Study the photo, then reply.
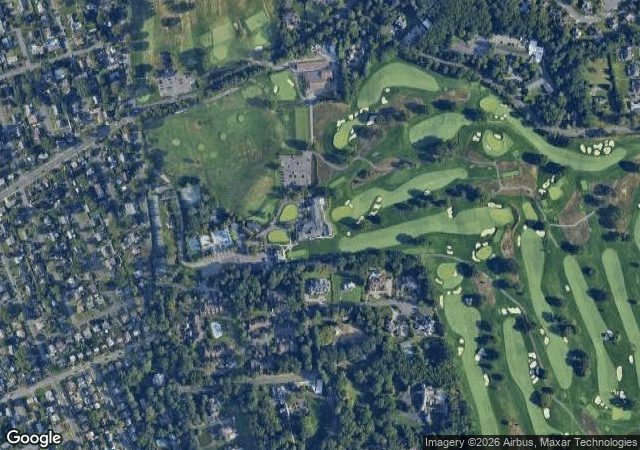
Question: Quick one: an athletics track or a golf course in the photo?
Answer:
golf course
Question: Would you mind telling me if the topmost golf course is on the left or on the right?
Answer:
left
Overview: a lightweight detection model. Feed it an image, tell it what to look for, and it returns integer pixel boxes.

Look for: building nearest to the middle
[300,197,332,242]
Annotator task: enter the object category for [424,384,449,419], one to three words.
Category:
house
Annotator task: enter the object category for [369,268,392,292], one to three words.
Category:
house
